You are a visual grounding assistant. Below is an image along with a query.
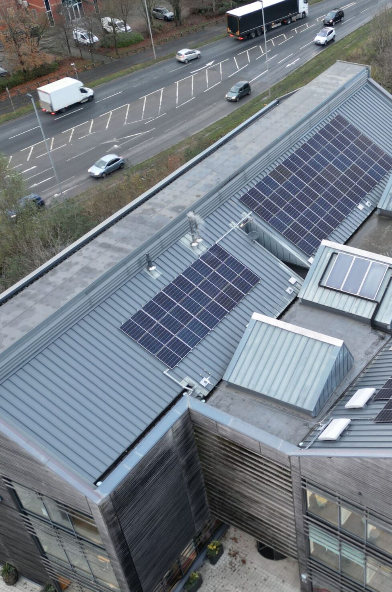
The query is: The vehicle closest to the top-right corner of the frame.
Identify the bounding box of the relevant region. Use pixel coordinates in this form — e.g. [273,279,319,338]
[323,9,345,26]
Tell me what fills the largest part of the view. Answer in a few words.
buildings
